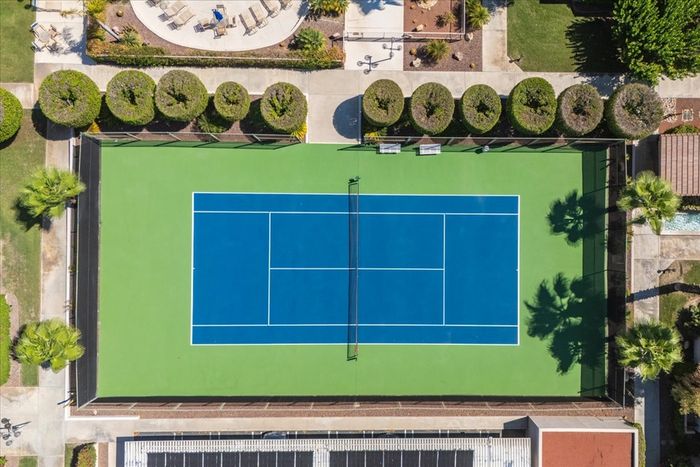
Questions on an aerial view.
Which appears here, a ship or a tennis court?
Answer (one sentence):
Looking from above, you can make out a tennis court.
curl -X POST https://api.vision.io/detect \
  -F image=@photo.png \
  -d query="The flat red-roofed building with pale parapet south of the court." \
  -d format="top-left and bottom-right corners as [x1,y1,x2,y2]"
[528,416,638,467]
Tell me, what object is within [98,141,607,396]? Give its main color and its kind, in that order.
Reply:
green tennis court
